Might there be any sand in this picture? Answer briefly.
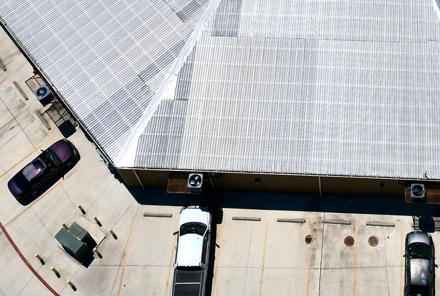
No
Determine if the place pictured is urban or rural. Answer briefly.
urban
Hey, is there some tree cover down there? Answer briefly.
No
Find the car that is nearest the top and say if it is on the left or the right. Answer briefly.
left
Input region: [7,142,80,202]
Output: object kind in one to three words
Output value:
car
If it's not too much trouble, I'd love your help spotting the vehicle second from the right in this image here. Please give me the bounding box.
[172,205,212,296]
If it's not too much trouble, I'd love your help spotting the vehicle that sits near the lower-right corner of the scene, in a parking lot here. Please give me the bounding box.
[402,233,438,296]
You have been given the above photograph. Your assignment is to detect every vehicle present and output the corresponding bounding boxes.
[7,142,80,202]
[172,205,212,296]
[402,233,438,296]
